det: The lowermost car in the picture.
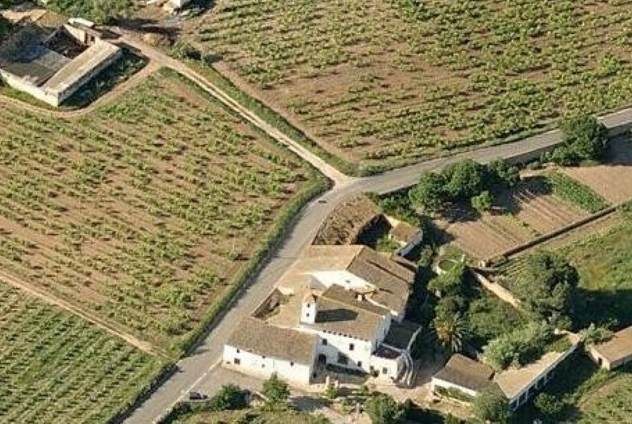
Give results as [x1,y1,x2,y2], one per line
[187,389,210,401]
